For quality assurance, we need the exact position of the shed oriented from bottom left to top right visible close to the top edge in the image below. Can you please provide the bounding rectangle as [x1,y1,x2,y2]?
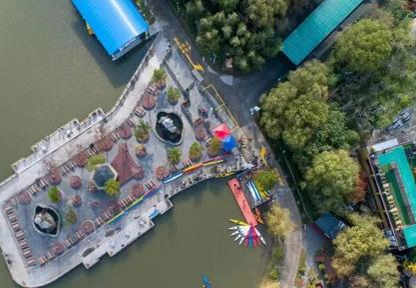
[281,0,371,68]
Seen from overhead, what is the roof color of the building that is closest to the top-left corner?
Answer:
blue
